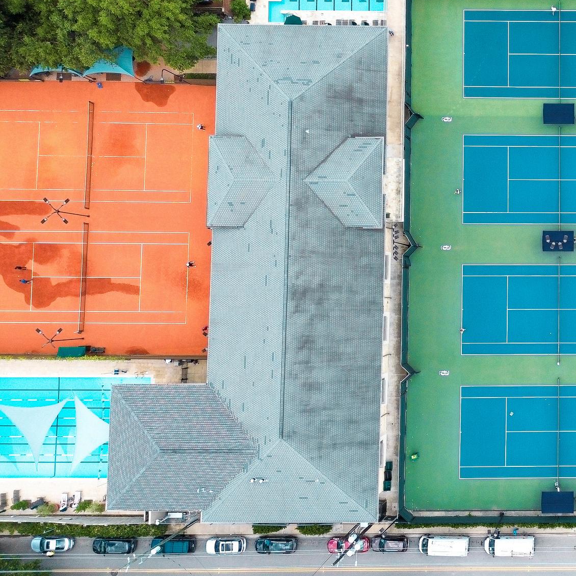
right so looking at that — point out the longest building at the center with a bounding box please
[197,24,397,523]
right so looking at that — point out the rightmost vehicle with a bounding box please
[485,534,537,560]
